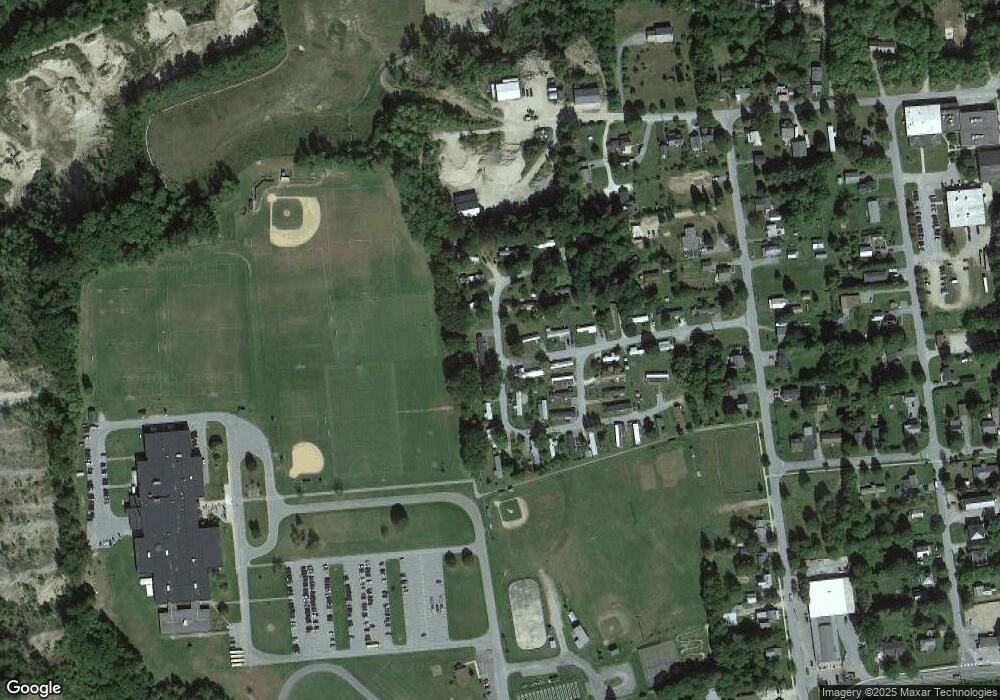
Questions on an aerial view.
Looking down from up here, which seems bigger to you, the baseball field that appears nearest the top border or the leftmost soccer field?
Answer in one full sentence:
The soccer field takes up more space than the baseball field does.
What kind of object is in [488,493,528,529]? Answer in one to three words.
baseball field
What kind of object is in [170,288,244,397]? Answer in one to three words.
soccer field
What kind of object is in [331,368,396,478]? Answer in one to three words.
soccer field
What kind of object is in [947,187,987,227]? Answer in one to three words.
building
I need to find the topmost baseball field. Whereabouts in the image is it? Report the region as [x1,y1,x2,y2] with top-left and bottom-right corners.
[264,189,320,247]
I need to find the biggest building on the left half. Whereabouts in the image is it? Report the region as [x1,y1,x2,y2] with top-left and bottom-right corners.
[127,430,222,636]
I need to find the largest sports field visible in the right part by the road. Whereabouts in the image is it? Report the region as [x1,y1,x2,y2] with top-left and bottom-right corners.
[716,426,769,493]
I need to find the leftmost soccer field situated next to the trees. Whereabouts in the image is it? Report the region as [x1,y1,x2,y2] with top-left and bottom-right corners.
[95,288,164,397]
